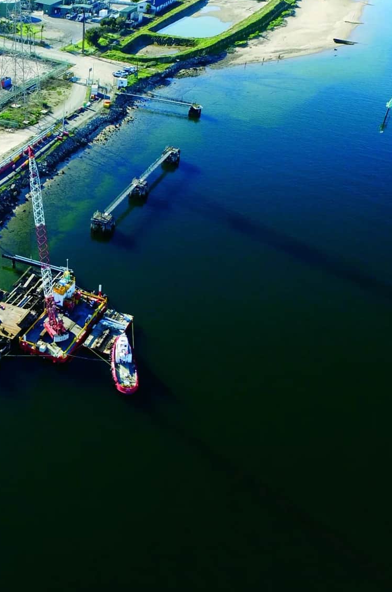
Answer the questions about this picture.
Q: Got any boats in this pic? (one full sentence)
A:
Yes, the image includes a boat.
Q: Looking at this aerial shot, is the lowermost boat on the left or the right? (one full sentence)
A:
You can find the lowermost boat on the left side of the picture.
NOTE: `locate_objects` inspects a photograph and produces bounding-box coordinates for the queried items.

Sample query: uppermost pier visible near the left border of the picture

[4,256,74,280]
